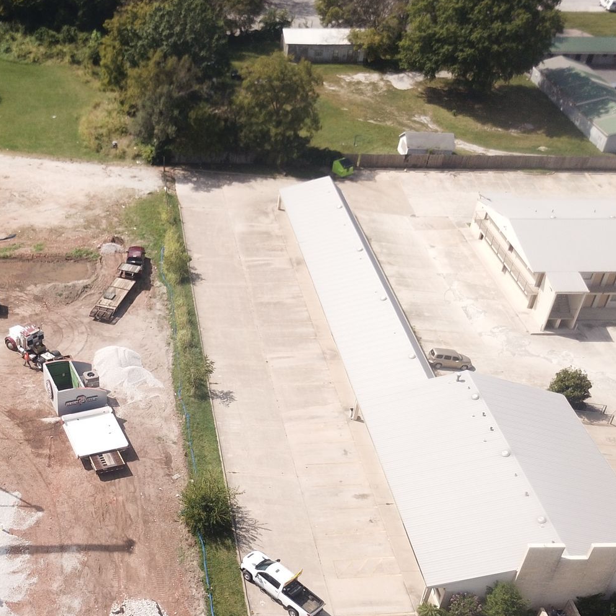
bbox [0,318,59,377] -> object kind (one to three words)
truck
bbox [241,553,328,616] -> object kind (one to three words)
truck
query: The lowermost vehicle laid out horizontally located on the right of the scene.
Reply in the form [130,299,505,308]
[425,344,475,367]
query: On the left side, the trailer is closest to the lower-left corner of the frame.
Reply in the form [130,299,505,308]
[88,452,127,478]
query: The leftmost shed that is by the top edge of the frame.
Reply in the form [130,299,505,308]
[279,27,371,62]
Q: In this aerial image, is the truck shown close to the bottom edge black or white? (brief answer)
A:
white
